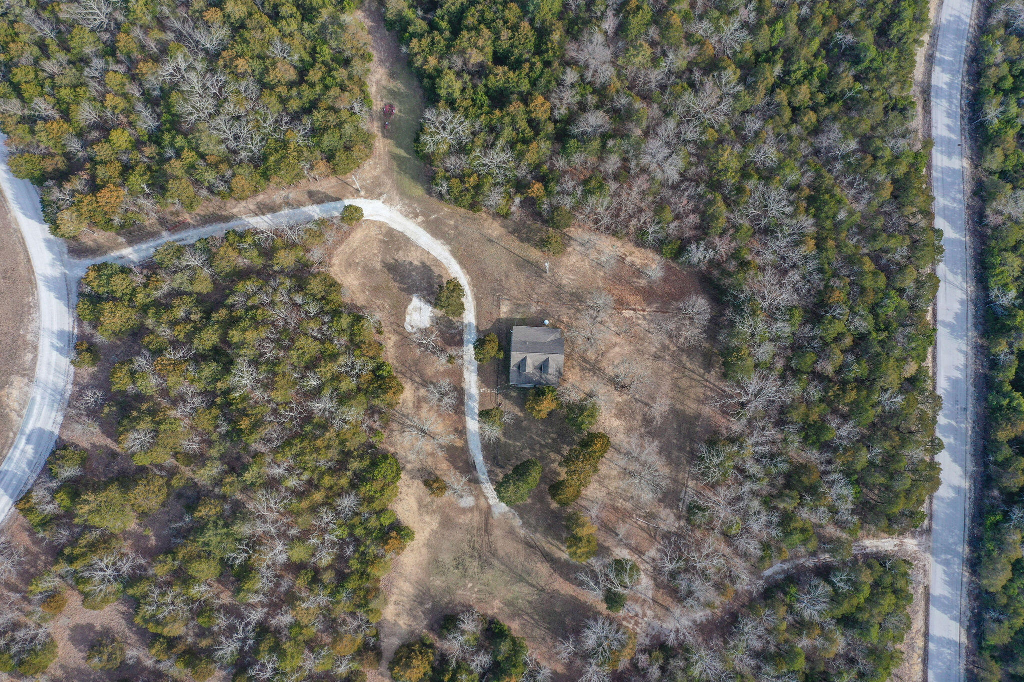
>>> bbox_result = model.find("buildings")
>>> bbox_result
[510,327,564,388]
